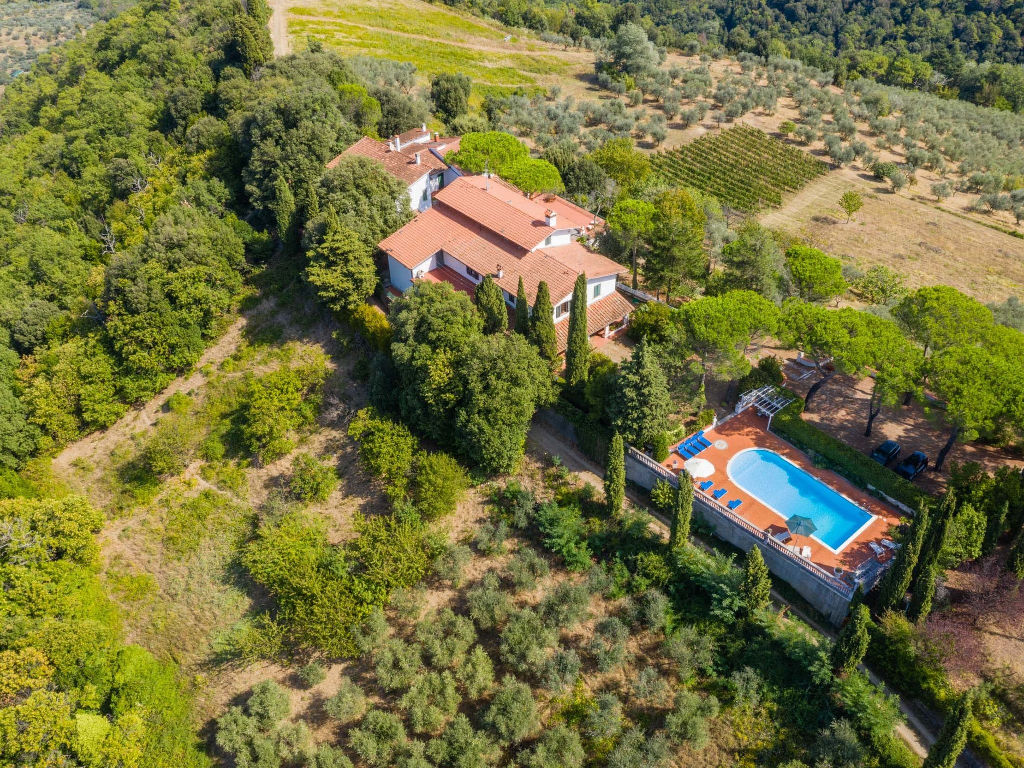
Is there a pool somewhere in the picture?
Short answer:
Yes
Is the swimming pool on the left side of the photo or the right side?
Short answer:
right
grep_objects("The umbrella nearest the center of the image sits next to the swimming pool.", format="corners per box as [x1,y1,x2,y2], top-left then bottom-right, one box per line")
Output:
[684,457,715,485]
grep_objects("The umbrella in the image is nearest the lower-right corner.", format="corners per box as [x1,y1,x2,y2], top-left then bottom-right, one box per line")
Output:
[783,512,817,554]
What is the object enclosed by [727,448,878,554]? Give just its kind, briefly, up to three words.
swimming pool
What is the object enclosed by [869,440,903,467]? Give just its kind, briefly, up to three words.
car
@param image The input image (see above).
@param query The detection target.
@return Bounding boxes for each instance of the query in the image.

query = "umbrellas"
[783,512,817,554]
[684,457,715,485]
